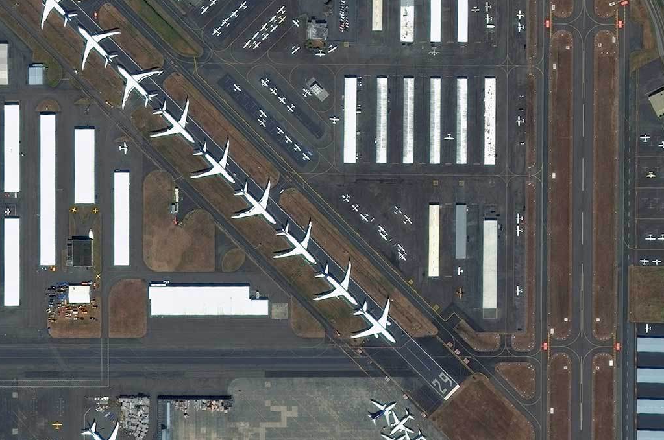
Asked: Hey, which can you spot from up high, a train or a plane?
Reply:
plane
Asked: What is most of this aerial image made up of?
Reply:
paved ground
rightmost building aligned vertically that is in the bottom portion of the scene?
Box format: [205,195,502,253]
[483,220,497,308]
